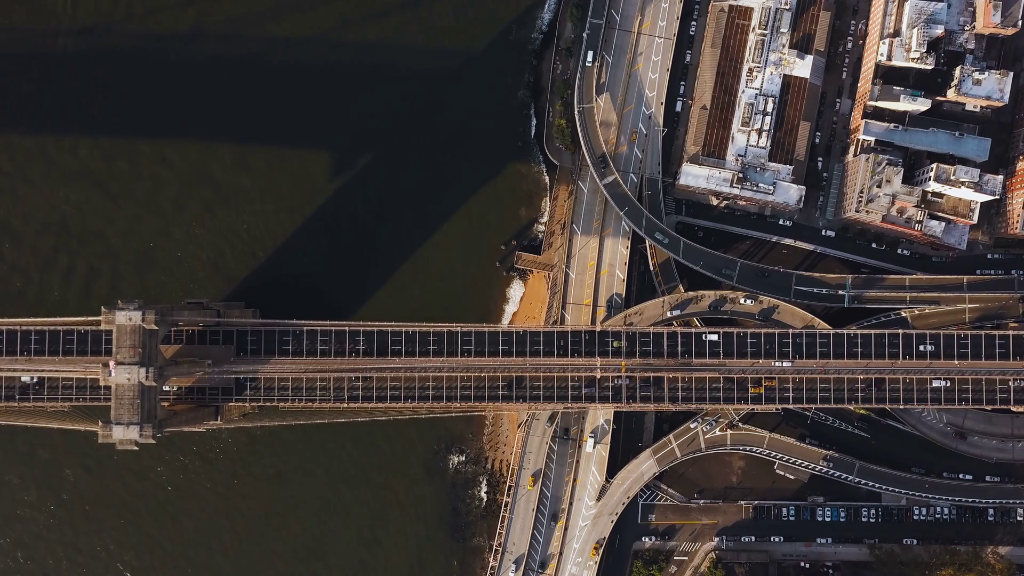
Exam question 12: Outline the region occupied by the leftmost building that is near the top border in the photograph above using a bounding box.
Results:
[680,0,836,184]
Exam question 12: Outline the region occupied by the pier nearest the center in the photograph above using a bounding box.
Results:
[514,252,552,273]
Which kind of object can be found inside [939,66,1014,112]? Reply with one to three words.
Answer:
house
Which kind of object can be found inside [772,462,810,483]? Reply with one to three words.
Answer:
shed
